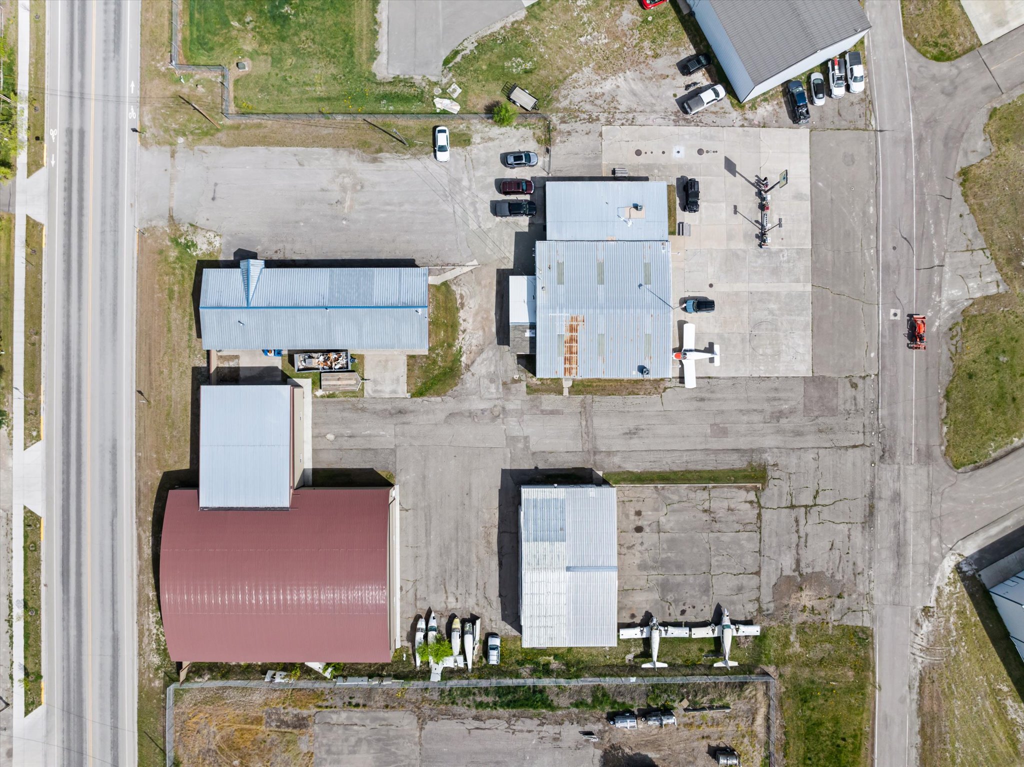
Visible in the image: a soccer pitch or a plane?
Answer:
plane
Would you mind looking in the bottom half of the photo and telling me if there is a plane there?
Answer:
Yes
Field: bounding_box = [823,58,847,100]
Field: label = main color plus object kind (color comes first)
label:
white truck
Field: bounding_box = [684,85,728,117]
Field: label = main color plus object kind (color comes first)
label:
white truck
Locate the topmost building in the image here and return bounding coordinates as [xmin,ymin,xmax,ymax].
[686,0,874,103]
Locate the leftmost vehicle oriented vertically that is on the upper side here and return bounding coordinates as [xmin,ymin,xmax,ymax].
[434,127,450,163]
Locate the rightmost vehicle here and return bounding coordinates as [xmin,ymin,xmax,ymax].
[914,317,931,348]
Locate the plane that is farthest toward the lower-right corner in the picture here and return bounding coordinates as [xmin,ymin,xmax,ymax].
[692,608,760,673]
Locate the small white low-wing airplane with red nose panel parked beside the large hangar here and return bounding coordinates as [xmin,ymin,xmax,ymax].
[674,323,725,389]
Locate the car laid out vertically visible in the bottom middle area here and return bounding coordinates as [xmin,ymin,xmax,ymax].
[486,634,502,666]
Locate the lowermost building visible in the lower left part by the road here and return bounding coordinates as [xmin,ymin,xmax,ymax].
[160,486,396,662]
